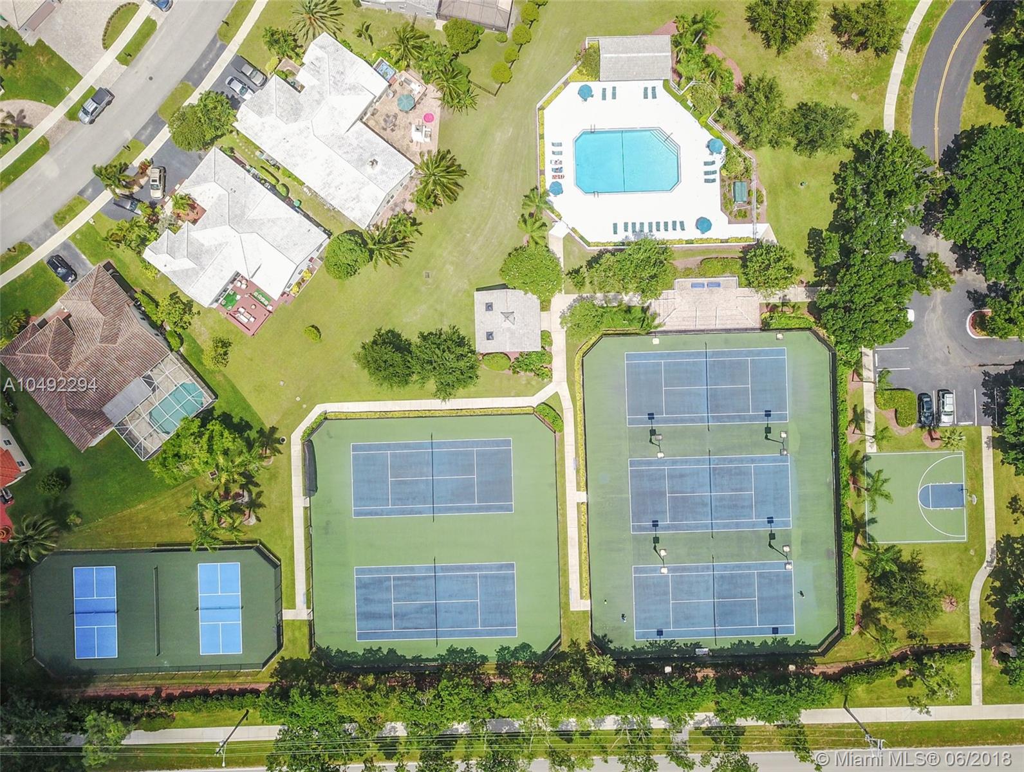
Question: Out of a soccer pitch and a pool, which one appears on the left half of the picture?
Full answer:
What appears on the left half of the picture is a pool.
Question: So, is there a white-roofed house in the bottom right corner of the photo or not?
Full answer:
No, there is no white-roofed house in the bottom right corner of the photo.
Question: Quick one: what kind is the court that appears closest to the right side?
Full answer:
The court that appears closest to the right side in the image is a basketball court.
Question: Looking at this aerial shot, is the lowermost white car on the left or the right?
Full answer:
The lowermost white car sits on the right side.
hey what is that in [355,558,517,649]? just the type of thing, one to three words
tennis court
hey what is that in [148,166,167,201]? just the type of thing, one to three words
car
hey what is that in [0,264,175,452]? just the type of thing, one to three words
house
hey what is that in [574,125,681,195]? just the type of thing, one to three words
swimming pool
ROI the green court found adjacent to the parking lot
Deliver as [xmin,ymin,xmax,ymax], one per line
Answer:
[864,451,968,544]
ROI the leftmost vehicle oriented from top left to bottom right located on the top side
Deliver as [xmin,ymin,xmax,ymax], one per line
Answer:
[47,253,79,285]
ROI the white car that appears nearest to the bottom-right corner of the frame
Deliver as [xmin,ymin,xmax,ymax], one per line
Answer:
[935,391,955,423]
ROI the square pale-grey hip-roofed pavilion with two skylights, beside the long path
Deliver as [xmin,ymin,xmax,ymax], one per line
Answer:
[474,290,541,353]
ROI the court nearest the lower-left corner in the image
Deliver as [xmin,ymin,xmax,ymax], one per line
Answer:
[68,566,119,659]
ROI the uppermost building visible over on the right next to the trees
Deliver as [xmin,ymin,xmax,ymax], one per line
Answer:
[600,36,671,87]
